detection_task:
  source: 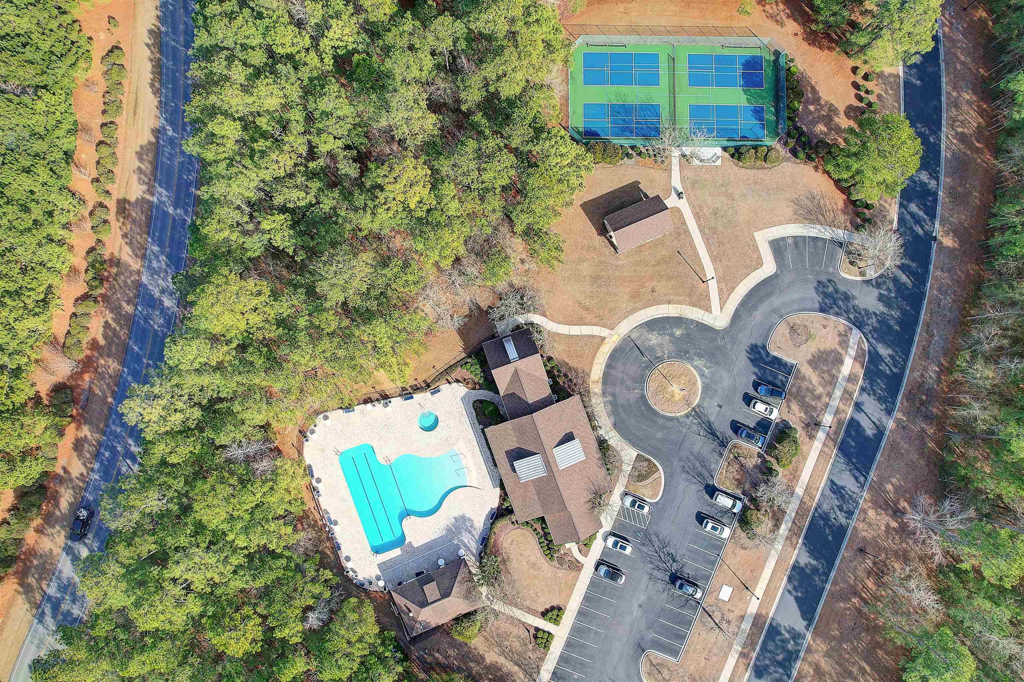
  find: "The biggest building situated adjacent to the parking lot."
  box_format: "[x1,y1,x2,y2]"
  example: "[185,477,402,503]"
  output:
[482,326,614,551]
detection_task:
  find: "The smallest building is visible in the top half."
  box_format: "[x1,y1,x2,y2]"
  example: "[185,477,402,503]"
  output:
[604,194,673,254]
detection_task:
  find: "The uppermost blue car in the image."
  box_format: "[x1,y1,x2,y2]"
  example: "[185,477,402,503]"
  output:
[759,385,788,402]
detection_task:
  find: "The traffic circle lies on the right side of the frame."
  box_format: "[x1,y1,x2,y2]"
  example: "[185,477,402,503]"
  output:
[645,360,701,416]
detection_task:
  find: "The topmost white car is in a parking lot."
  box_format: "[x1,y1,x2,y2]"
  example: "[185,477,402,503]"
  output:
[751,400,780,418]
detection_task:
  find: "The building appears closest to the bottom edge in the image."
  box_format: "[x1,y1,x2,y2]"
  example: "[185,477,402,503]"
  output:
[389,560,486,638]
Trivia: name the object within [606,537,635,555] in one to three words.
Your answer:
car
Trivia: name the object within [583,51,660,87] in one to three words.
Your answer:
sports court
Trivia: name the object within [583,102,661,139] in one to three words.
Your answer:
sports court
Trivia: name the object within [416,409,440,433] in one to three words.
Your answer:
swimming pool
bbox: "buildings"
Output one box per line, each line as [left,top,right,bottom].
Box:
[482,326,614,551]
[604,194,673,254]
[389,560,486,638]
